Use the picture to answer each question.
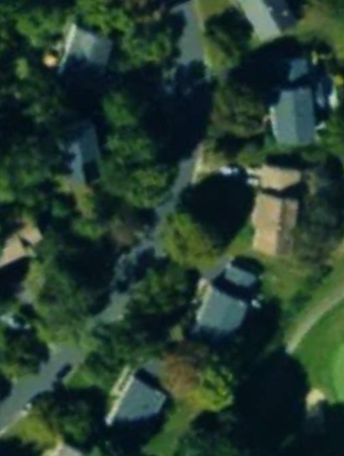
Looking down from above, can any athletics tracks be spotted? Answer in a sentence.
No, I can see no athletics track in this picture.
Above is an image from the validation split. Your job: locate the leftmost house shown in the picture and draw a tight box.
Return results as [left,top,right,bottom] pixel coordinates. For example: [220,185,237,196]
[0,227,47,272]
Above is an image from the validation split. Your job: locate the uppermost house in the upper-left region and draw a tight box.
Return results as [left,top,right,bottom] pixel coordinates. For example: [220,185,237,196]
[62,28,113,81]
